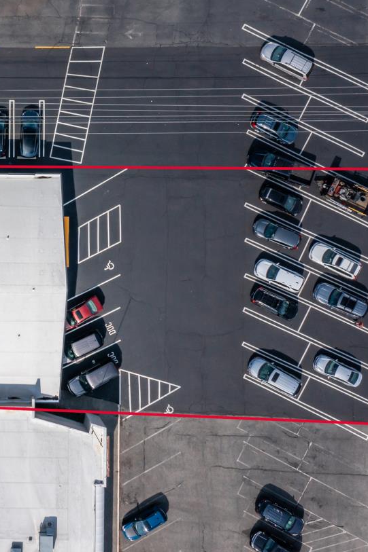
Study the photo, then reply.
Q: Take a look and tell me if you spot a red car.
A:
Yes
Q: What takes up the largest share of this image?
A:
paved ground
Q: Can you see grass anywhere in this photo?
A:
No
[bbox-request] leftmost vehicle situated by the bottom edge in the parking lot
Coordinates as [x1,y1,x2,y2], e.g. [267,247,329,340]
[121,504,170,538]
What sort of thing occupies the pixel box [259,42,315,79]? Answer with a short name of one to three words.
vehicle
